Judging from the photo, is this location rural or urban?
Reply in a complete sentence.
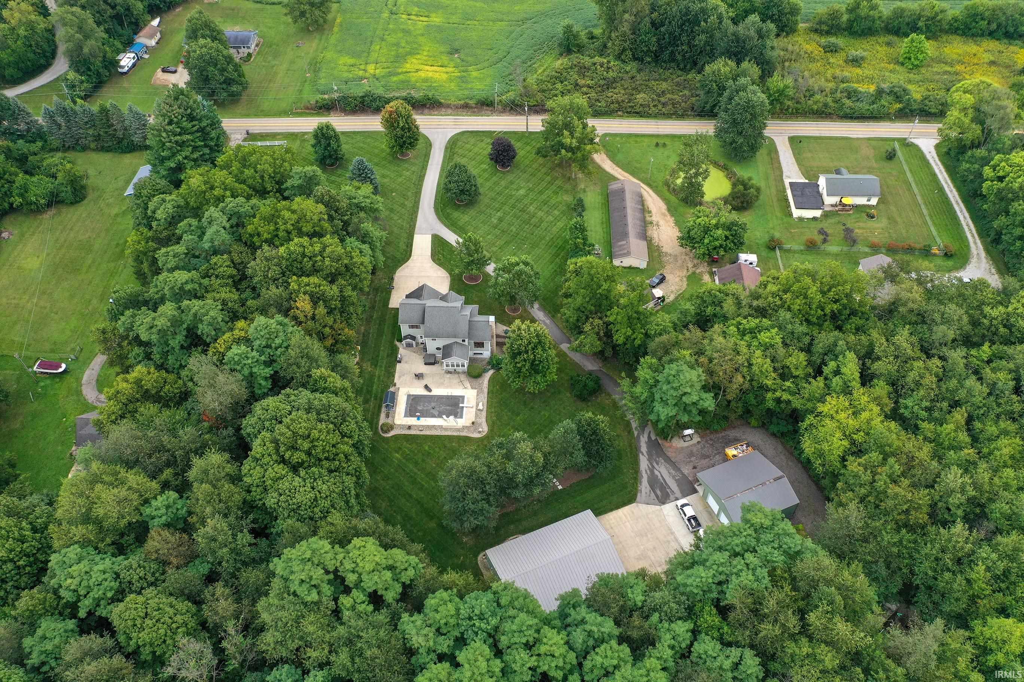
From above, the setting appears rural.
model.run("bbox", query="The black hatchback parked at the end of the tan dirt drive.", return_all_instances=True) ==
[648,270,668,286]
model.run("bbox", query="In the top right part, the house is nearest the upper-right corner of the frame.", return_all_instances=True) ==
[812,164,881,204]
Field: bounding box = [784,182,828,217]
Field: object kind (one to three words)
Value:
building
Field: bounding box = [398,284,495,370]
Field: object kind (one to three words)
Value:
house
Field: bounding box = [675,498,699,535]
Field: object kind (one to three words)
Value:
truck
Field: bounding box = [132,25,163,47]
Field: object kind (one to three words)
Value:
building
